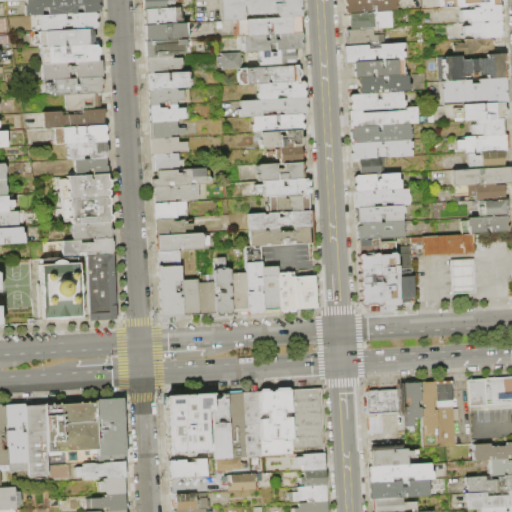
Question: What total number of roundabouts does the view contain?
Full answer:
Not a single roundabout can be seen.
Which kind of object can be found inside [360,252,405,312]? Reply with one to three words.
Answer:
building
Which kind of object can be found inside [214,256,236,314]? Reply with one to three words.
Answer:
building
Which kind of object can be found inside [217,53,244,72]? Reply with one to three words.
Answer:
house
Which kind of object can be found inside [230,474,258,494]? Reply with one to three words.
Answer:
house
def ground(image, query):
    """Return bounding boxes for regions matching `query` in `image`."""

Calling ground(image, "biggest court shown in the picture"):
[4,262,32,310]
